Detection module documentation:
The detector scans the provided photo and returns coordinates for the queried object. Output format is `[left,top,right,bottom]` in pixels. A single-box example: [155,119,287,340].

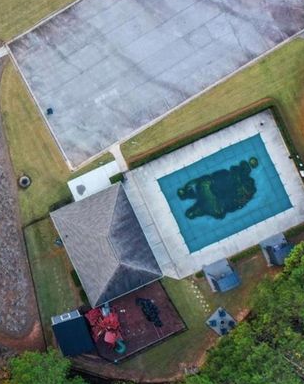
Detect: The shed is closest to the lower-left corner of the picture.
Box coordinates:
[51,310,94,359]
